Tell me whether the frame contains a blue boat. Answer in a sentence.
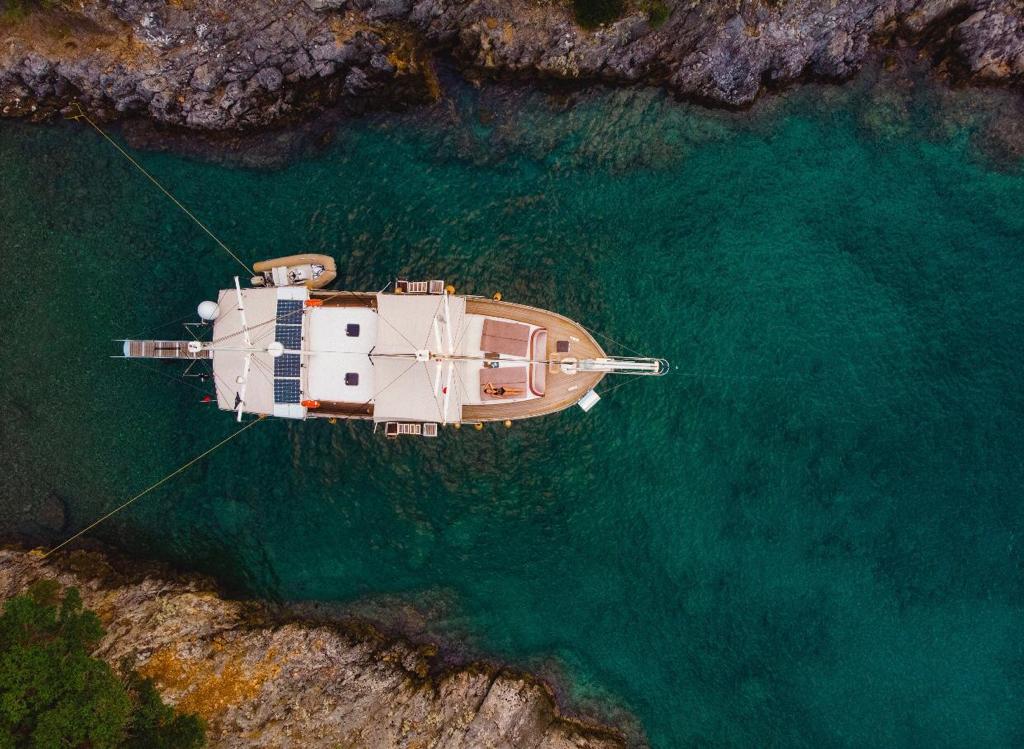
No, I can see no blue boat in this picture.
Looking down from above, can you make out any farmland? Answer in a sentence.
No, farmland can't be seen anywhere here.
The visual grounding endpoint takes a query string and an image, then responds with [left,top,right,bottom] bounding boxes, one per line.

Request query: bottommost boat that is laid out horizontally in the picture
[110,278,669,437]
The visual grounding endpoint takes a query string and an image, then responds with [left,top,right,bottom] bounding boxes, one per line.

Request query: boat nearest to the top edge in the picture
[248,253,336,292]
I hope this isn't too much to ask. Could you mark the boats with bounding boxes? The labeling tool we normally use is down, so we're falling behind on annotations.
[110,278,669,437]
[248,253,336,292]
